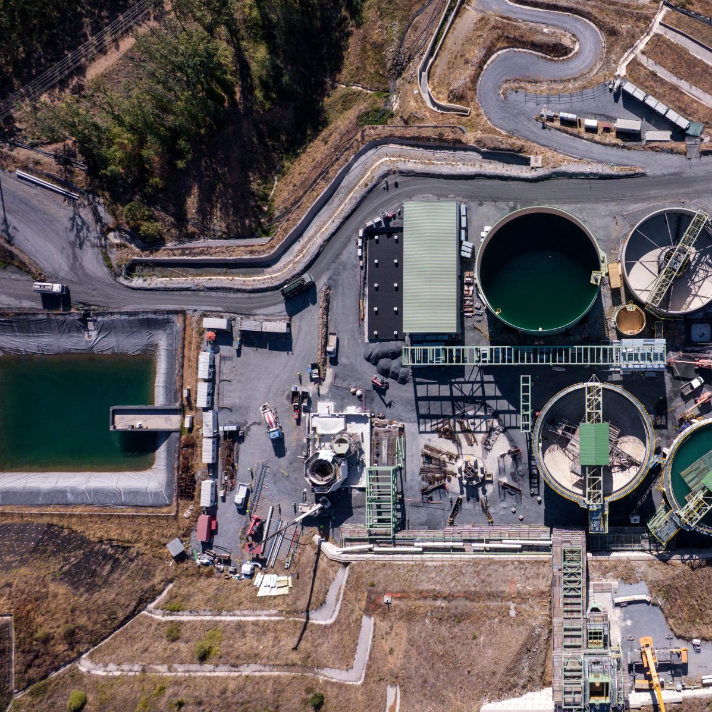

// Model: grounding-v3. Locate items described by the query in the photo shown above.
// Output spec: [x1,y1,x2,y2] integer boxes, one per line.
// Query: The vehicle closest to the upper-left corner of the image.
[31,282,70,295]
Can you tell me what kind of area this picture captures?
industrial area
